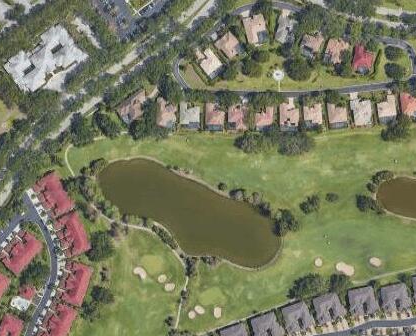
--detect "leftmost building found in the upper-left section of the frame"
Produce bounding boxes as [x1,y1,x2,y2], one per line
[3,22,89,92]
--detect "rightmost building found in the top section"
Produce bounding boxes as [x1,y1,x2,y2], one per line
[401,93,416,118]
